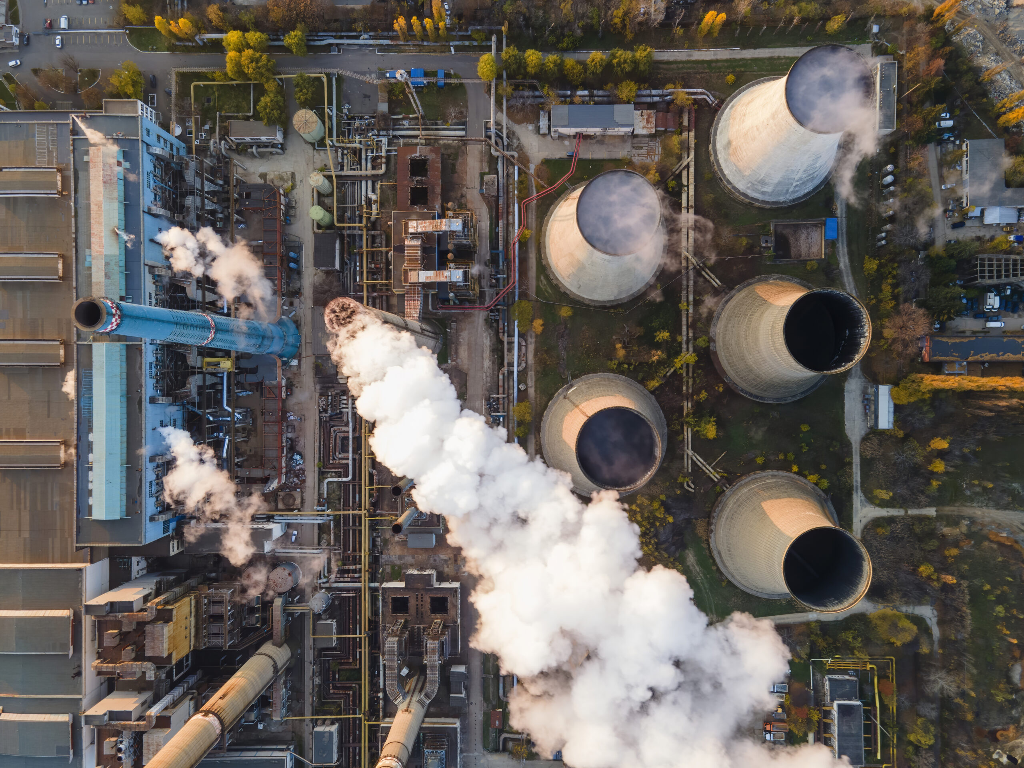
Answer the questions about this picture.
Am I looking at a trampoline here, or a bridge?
bridge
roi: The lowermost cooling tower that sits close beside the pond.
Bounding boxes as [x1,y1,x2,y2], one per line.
[711,274,873,402]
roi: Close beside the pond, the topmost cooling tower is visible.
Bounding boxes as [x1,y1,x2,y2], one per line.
[711,45,873,205]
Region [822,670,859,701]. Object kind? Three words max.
house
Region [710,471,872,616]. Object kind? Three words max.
cooling tower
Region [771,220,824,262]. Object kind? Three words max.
pond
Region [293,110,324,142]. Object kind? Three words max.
storage tank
